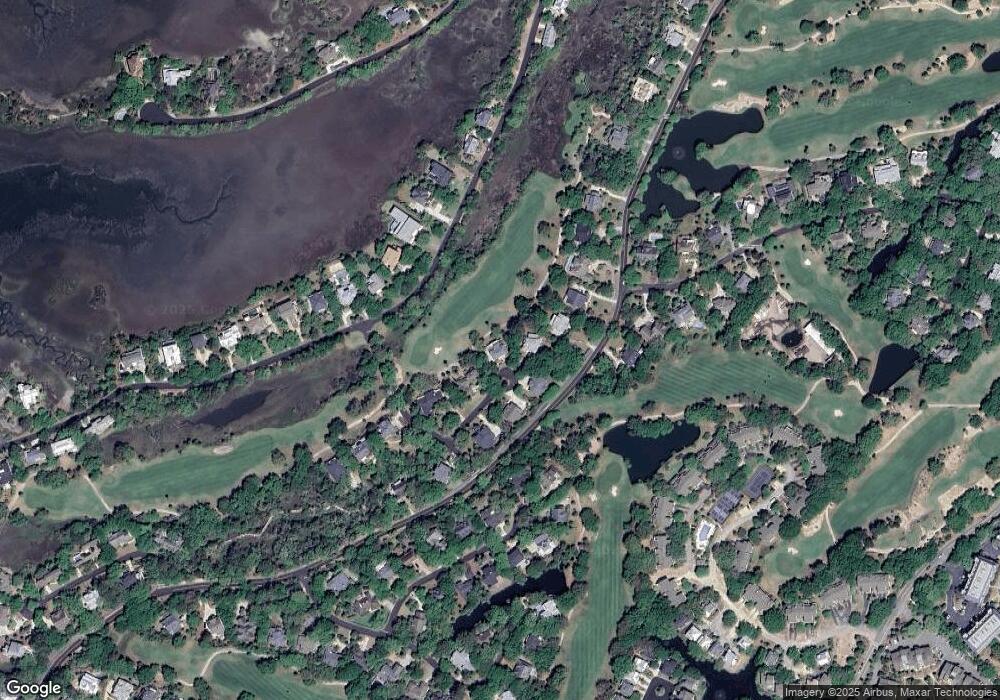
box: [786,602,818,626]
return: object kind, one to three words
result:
building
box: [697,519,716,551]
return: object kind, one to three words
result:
swimming pool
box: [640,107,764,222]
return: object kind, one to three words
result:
pond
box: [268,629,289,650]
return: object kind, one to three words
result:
house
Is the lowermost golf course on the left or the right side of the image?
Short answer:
left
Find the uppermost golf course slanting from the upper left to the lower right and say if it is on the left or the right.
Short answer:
right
